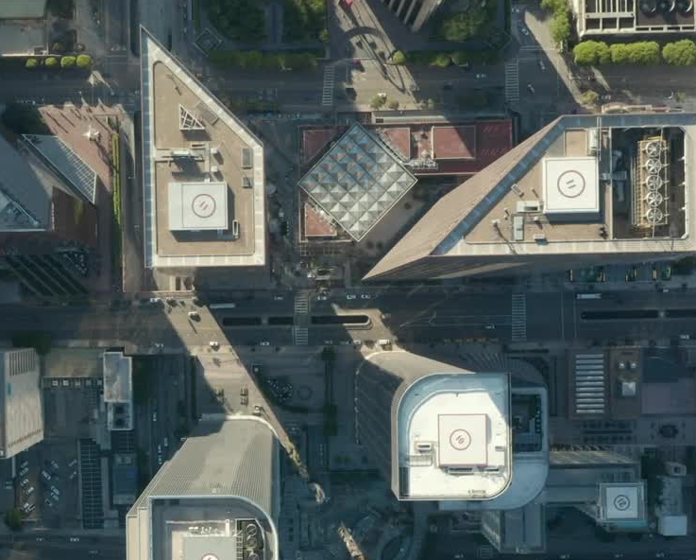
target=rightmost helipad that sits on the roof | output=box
[606,487,638,519]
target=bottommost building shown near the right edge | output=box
[649,510,687,535]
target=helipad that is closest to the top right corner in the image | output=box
[541,157,599,213]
